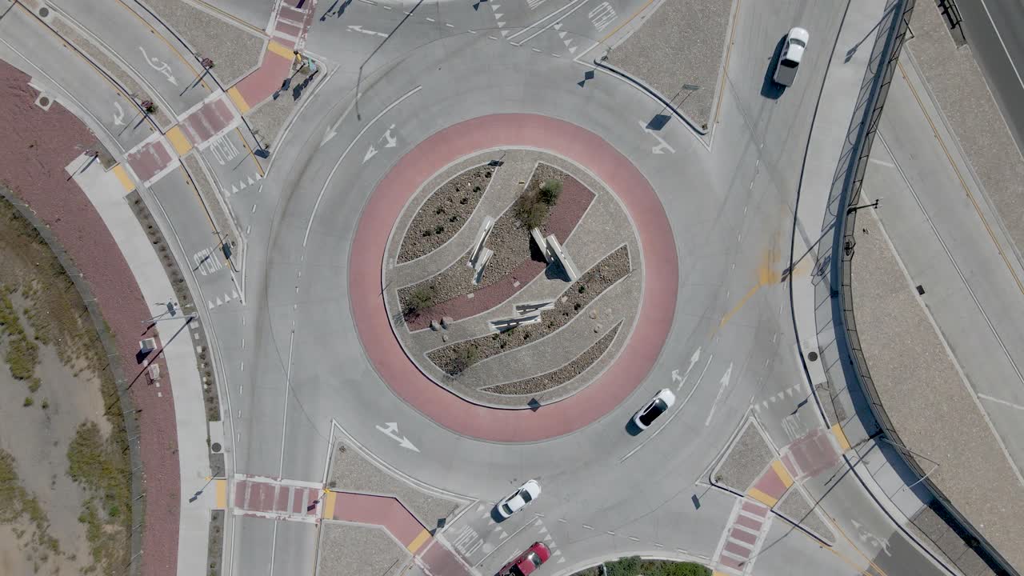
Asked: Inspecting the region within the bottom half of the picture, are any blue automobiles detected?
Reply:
No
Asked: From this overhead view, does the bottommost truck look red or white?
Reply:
red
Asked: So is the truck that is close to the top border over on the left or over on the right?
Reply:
right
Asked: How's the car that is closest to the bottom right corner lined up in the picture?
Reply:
diagonally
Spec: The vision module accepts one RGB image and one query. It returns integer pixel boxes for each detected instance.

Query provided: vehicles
[635,389,678,432]
[771,27,808,90]
[498,480,542,520]
[495,542,552,576]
